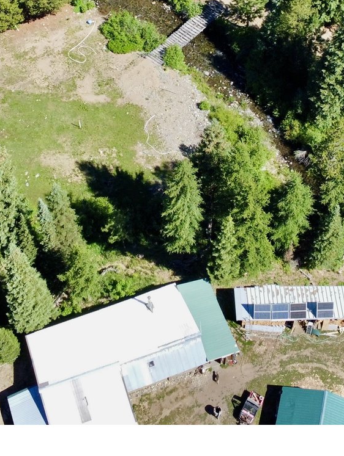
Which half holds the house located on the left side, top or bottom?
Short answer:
bottom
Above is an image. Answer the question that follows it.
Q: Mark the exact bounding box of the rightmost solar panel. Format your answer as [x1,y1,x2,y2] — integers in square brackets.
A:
[316,298,334,317]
